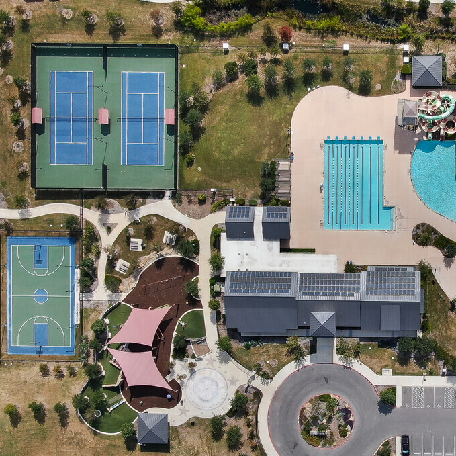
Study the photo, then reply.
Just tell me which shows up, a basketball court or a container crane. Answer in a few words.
basketball court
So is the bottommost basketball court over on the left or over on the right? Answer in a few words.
left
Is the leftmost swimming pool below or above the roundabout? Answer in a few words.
above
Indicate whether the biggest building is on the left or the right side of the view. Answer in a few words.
right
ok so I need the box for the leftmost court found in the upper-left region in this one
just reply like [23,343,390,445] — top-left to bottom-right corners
[36,47,105,188]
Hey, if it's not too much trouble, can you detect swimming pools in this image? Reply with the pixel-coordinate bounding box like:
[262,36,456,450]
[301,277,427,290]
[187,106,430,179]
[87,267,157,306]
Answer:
[321,136,395,231]
[410,140,456,223]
